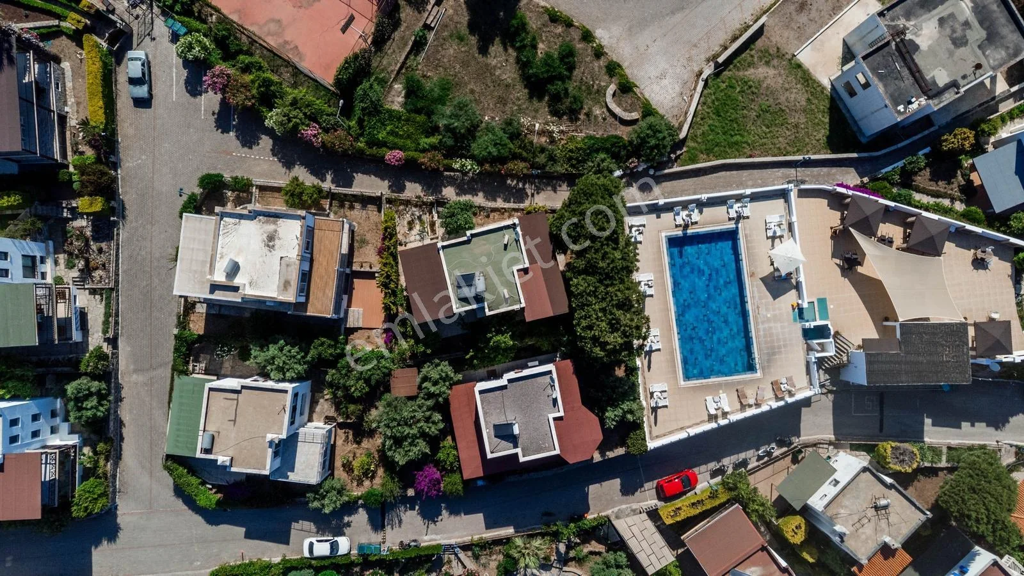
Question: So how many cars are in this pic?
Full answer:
The count of cars comes to 3.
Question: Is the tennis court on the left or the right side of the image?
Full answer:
The tennis court sits on the left side.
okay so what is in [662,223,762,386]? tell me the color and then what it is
blue swimming pool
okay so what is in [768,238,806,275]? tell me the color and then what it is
white umbrella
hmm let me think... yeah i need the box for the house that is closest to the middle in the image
[399,213,569,323]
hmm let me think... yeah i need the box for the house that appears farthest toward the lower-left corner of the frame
[0,392,93,518]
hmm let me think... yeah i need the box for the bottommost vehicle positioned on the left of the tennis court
[126,51,154,101]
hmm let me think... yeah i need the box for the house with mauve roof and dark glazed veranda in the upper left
[0,33,78,170]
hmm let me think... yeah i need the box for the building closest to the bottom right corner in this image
[896,518,1013,576]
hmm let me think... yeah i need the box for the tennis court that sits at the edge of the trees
[220,0,391,83]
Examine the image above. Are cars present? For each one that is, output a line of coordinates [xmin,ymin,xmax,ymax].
[126,51,154,101]
[654,470,698,497]
[304,533,352,559]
